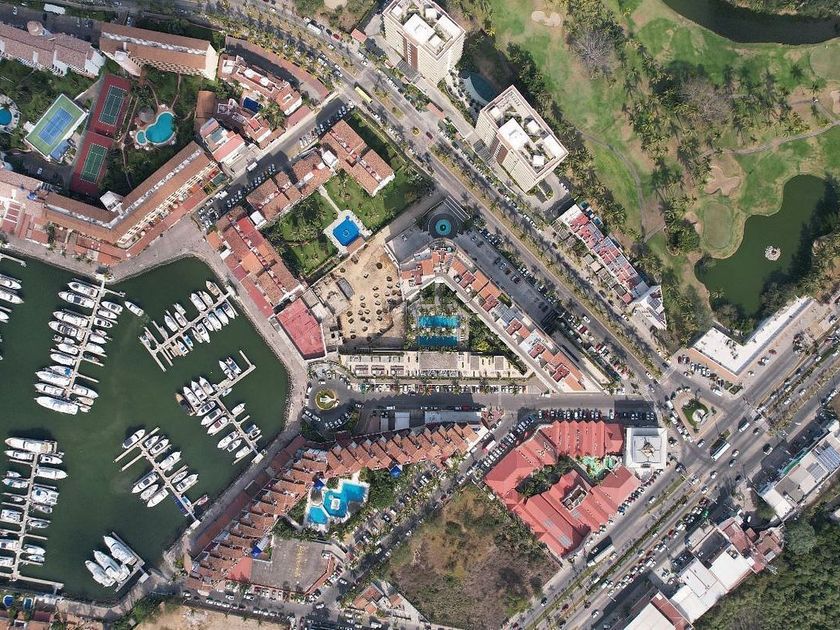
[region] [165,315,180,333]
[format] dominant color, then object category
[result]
white boat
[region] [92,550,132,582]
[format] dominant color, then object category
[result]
white boat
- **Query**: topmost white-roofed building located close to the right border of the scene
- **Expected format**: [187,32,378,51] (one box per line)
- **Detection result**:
[686,296,816,379]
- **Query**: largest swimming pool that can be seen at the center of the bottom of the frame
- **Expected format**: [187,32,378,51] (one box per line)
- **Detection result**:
[305,479,371,531]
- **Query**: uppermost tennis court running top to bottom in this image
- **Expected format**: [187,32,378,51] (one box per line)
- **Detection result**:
[88,75,128,139]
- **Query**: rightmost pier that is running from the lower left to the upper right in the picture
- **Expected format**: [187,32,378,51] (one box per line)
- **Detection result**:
[139,284,239,373]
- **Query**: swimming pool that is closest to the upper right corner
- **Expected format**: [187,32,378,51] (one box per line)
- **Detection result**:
[459,71,496,107]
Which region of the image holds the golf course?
top right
